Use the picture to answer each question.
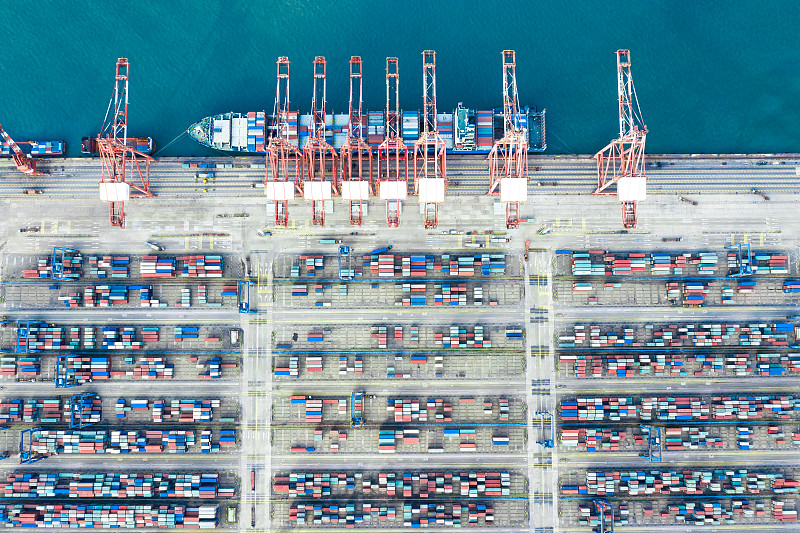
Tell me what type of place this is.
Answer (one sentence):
This image shows a port.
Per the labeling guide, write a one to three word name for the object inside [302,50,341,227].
container crane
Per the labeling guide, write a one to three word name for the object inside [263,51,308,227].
container crane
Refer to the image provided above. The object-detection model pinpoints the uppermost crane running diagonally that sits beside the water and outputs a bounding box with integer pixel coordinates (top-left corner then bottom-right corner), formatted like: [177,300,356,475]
[0,127,52,178]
